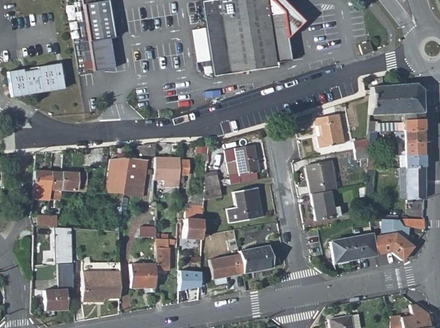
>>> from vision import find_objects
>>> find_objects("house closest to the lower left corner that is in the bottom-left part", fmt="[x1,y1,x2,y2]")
[42,288,70,312]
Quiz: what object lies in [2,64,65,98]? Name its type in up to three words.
building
